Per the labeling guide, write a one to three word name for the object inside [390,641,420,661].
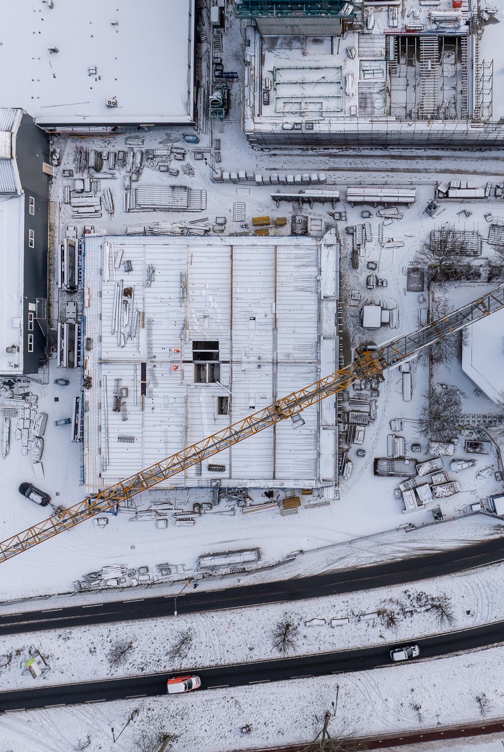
car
